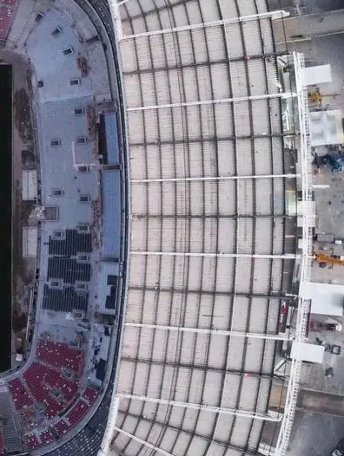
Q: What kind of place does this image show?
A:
sports ground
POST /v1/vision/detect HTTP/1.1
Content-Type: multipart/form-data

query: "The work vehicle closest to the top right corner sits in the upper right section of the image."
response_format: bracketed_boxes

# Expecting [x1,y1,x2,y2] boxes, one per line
[308,85,342,110]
